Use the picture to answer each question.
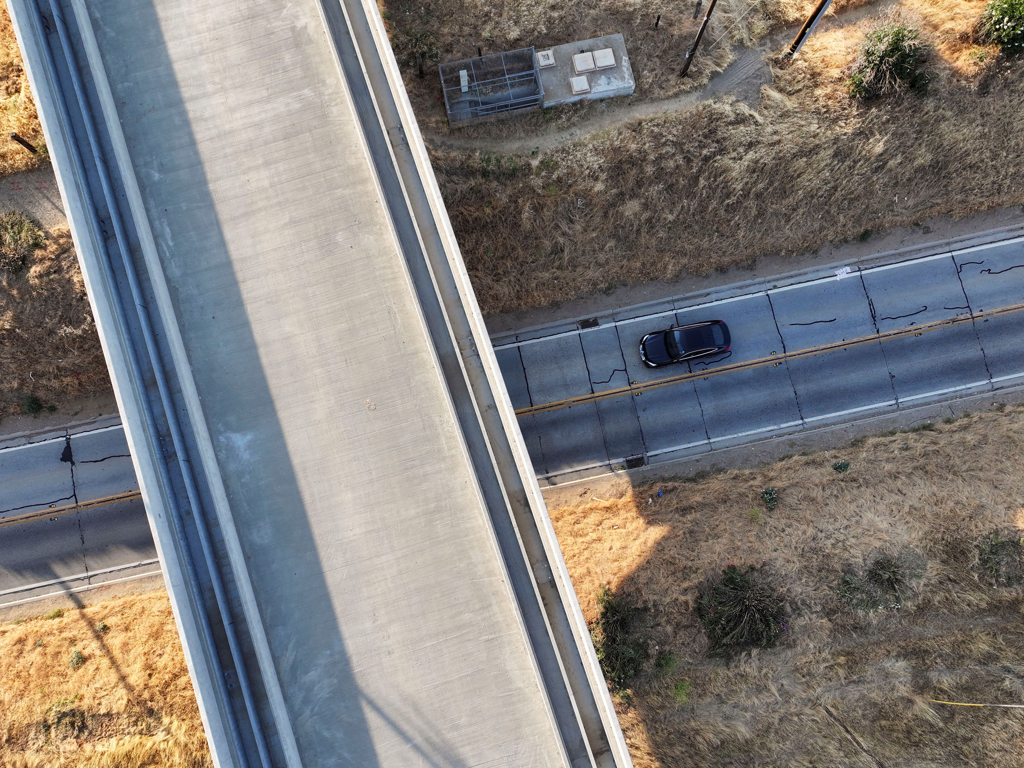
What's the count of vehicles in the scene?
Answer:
one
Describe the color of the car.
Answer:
black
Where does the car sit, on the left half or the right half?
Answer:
right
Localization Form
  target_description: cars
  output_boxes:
[637,320,735,369]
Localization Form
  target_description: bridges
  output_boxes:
[5,0,634,768]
